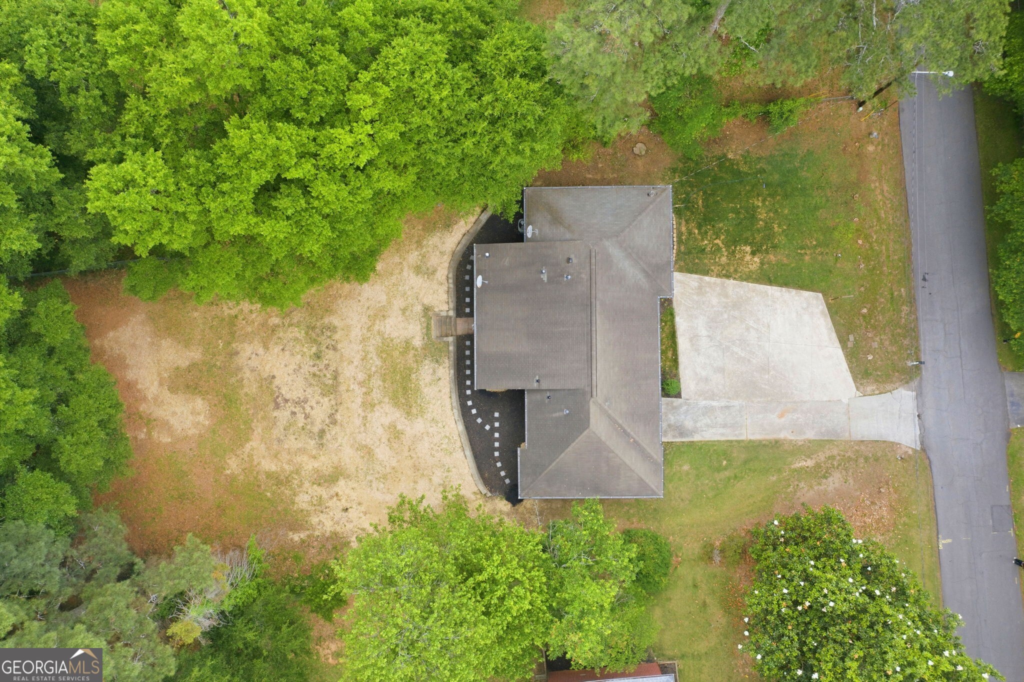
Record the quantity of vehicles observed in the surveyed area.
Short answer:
0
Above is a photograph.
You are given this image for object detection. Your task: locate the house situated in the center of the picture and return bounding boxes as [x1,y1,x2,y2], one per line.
[472,184,675,500]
